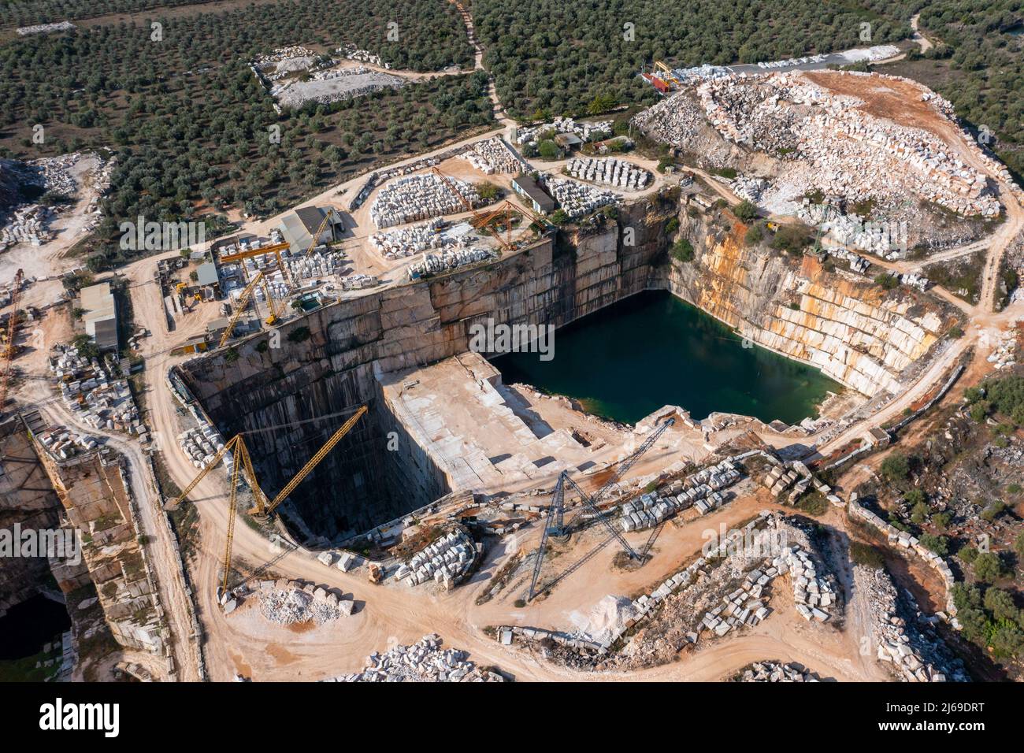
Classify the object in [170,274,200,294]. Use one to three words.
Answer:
work vehicle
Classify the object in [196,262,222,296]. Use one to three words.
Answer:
shed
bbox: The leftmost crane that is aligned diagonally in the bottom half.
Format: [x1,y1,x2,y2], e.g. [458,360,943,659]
[162,404,370,605]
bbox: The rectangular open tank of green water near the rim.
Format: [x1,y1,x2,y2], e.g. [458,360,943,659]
[288,291,328,316]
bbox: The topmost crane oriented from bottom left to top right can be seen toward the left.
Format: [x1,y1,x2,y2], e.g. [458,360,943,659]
[212,208,332,354]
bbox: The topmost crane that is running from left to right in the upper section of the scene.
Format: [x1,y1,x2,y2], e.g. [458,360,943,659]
[759,199,914,256]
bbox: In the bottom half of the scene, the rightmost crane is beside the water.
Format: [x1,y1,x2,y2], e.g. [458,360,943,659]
[520,417,672,612]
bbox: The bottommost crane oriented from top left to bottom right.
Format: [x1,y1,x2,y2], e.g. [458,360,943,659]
[432,165,552,256]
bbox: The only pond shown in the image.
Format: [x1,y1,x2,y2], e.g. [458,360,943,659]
[0,591,71,646]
